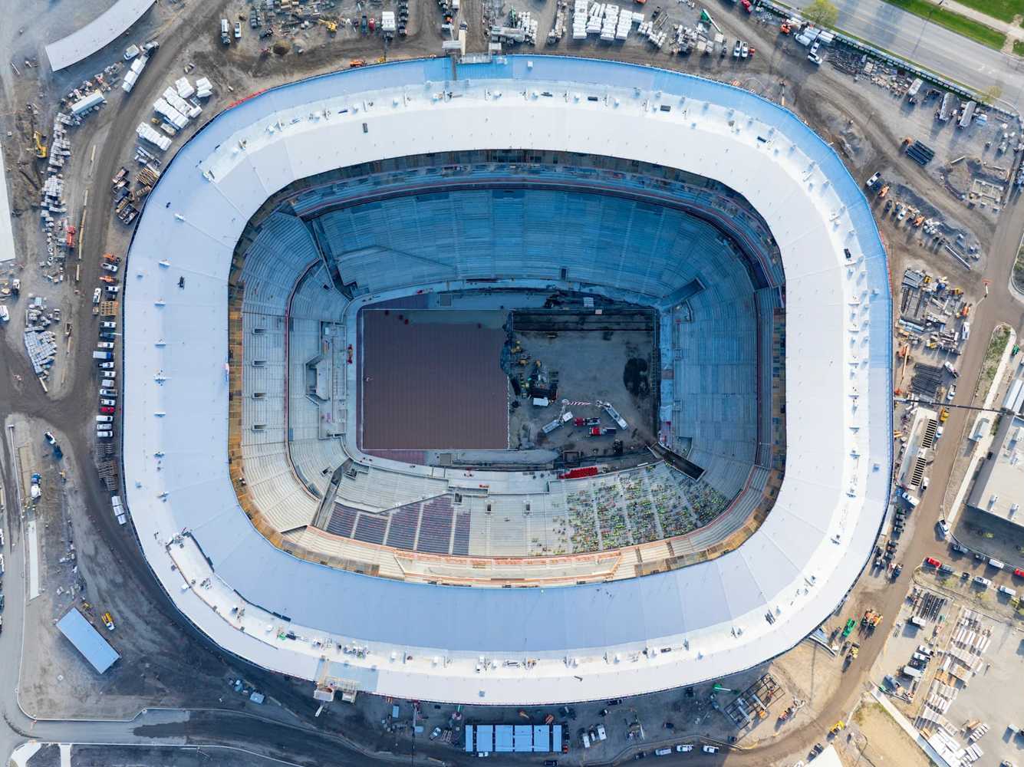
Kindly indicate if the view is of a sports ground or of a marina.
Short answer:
sports ground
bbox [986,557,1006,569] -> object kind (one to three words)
vehicle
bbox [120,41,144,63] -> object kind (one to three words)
truck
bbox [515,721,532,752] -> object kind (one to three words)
building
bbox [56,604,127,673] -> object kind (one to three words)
shed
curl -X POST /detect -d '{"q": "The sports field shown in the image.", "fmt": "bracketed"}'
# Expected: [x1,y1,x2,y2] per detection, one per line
[358,296,656,465]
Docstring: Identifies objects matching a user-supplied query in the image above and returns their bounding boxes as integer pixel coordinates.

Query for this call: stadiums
[120,52,896,708]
